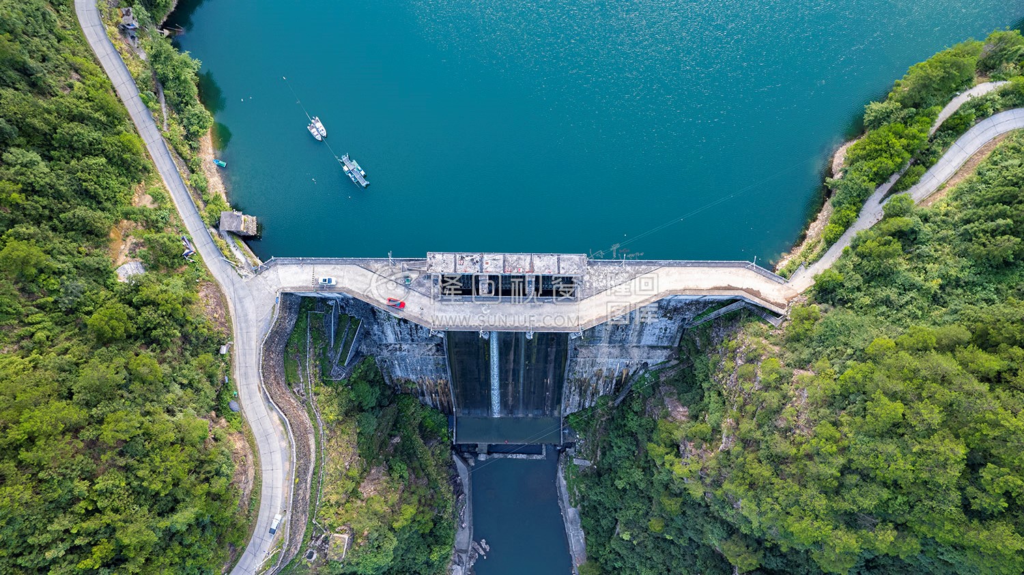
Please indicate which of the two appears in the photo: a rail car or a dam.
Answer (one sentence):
The image shows a dam.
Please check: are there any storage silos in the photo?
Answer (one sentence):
No, there is no storage silo in the image.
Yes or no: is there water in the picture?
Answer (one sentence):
Yes, some water is visible.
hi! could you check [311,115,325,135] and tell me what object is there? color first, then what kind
white boat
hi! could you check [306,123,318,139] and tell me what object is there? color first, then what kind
white boat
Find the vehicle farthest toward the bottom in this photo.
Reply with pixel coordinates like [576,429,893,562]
[266,514,282,536]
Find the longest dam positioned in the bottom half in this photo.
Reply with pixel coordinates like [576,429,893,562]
[251,258,789,447]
